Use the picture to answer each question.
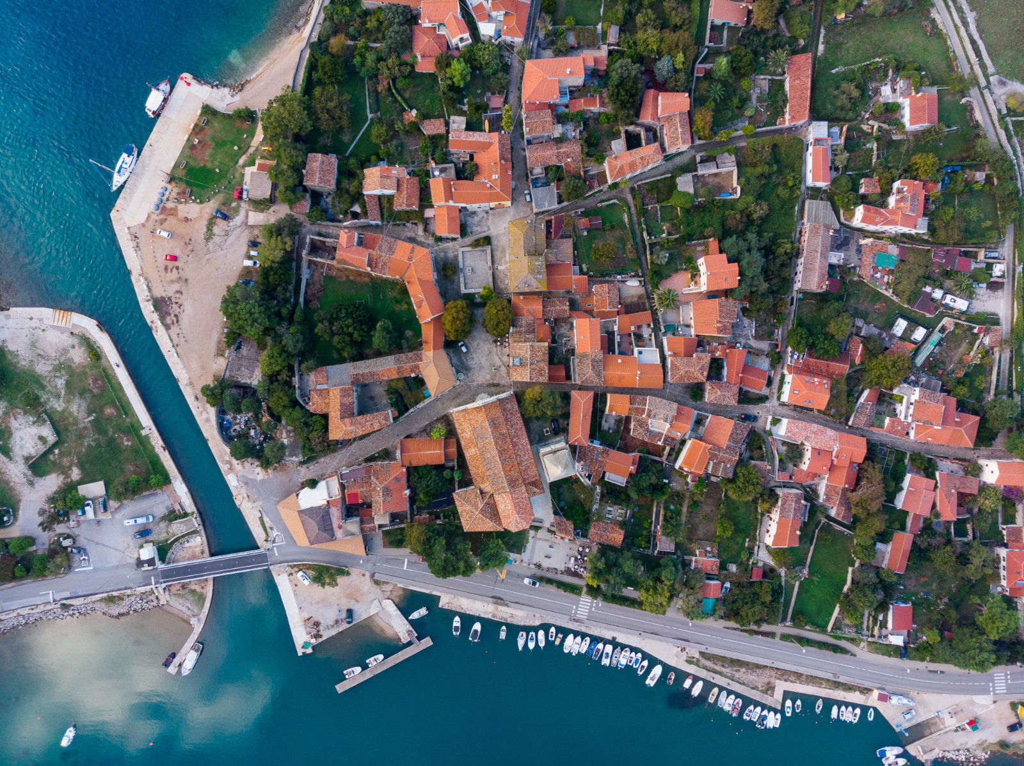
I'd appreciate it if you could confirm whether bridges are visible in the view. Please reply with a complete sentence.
Yes, the picture does show a bridge.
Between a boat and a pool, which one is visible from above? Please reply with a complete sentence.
Visible in the photo is a boat.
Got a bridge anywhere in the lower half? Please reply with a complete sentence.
Yes, the scene does show a bridge in the lower half.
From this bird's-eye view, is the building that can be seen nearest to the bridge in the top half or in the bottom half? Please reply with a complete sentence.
You can find the building that can be seen nearest to the bridge in the bottom half.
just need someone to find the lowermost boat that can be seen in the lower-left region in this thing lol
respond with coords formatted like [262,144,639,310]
[62,723,78,746]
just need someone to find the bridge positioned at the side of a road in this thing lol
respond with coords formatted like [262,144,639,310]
[157,549,272,585]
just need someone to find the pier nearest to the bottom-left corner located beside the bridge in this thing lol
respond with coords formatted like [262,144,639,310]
[167,578,214,675]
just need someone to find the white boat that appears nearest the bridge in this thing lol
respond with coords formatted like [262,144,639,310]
[184,642,203,675]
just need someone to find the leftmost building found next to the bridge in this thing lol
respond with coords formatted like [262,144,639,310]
[137,545,161,568]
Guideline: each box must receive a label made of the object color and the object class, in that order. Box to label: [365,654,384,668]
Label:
white boat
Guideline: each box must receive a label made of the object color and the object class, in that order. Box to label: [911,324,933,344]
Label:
white camper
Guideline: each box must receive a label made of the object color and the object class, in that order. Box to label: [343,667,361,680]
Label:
white boat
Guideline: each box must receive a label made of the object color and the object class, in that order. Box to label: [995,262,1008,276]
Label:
white vehicle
